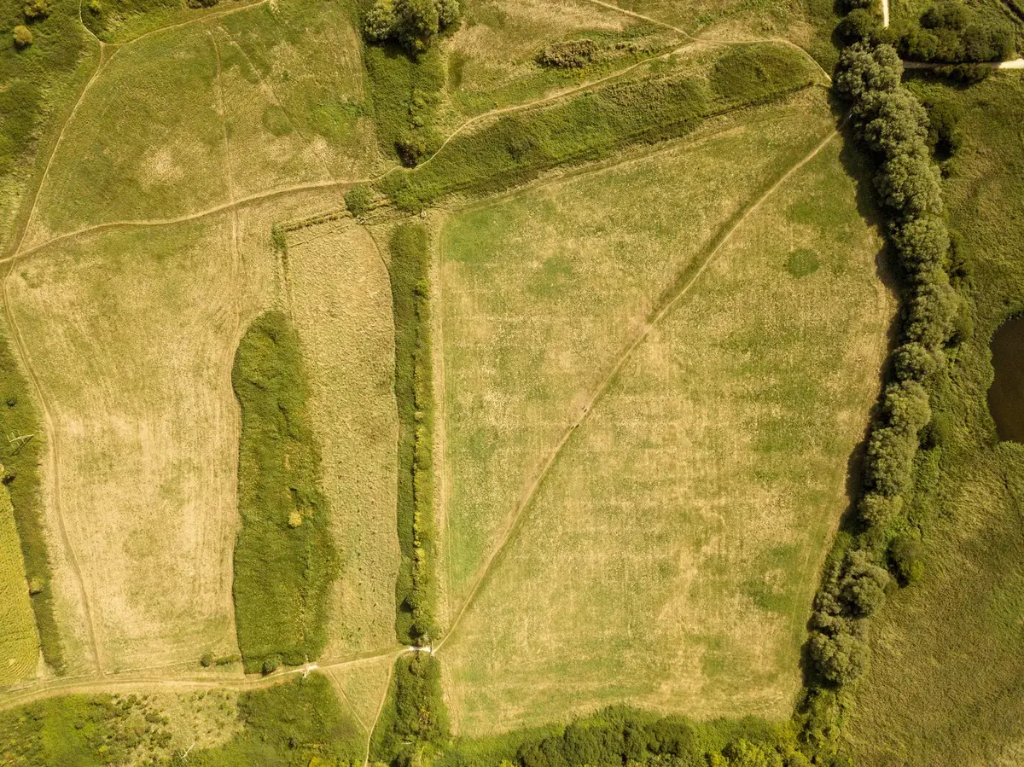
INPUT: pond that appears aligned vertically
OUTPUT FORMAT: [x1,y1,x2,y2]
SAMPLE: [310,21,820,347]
[988,310,1024,441]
